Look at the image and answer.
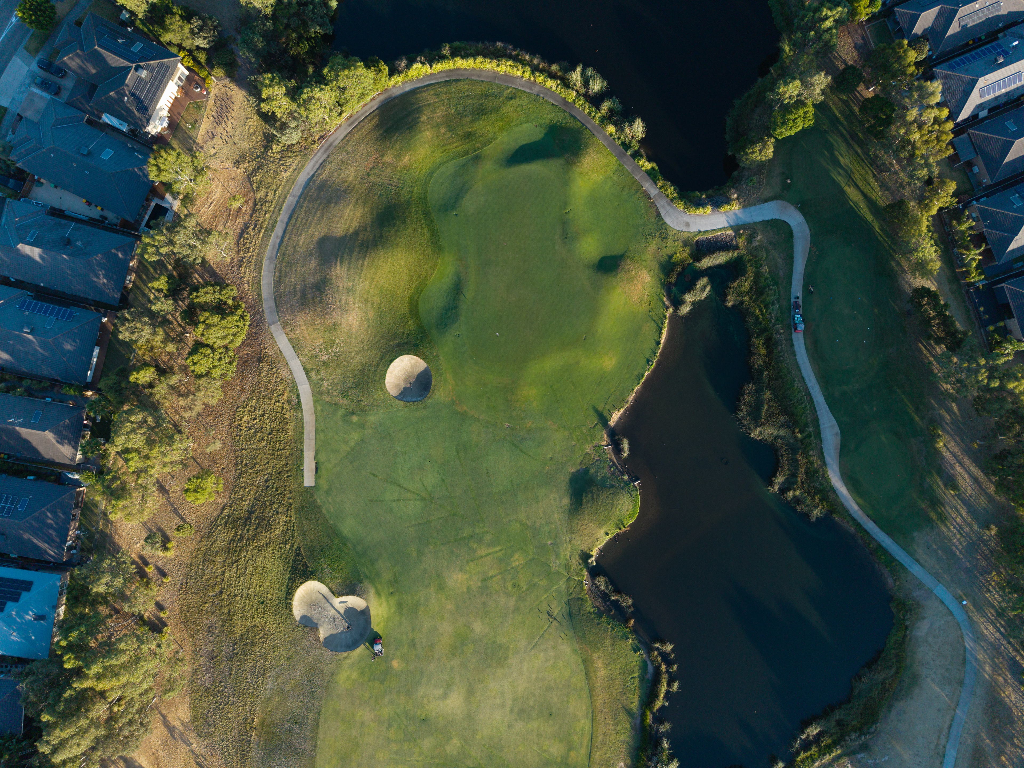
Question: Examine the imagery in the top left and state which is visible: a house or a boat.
house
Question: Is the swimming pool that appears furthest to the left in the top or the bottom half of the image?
top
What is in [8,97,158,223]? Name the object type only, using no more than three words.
house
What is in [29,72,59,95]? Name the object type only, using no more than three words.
car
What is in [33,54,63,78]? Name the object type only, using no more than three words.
car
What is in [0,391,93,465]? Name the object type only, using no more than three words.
house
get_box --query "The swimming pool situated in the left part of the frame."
[142,196,178,221]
